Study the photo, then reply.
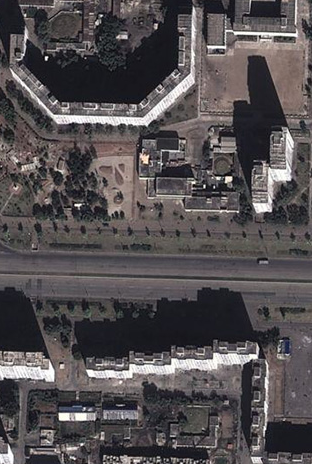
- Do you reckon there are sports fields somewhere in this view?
Yes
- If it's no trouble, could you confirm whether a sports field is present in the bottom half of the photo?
No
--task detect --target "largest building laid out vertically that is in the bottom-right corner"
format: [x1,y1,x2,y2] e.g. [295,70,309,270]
[251,359,268,462]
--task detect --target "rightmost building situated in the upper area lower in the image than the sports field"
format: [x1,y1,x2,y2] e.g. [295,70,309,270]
[270,129,291,182]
